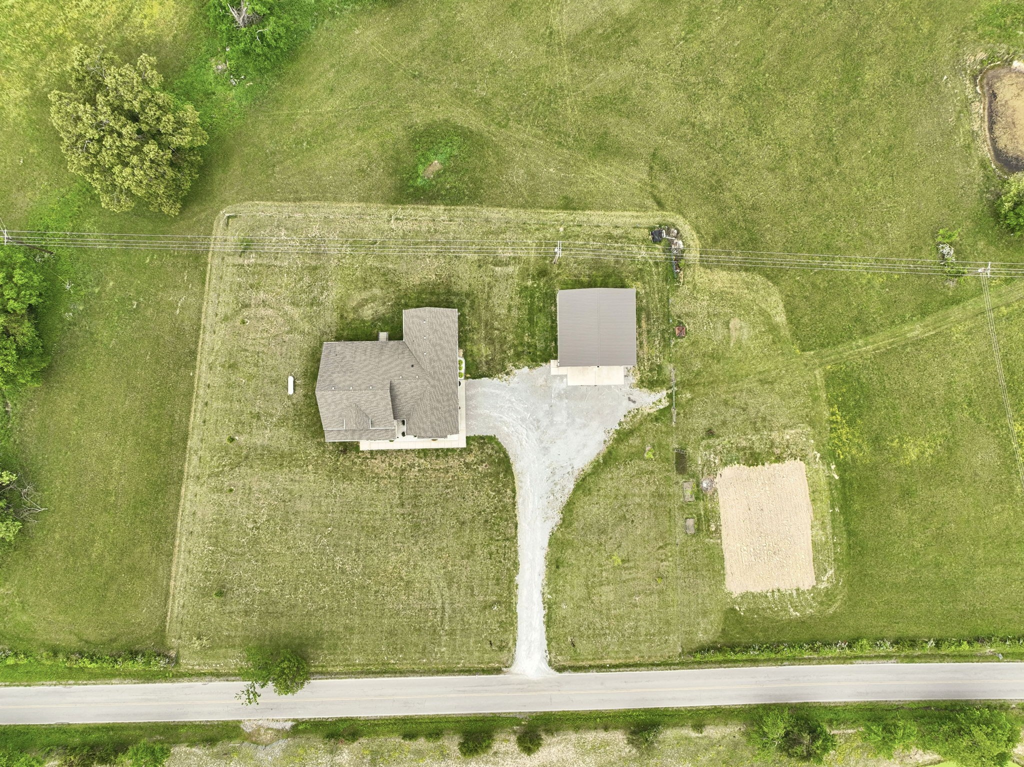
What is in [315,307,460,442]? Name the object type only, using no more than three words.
house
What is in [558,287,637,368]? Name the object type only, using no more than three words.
barn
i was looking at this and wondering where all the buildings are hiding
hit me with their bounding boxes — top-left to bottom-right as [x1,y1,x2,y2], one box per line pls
[558,287,637,368]
[315,307,460,442]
